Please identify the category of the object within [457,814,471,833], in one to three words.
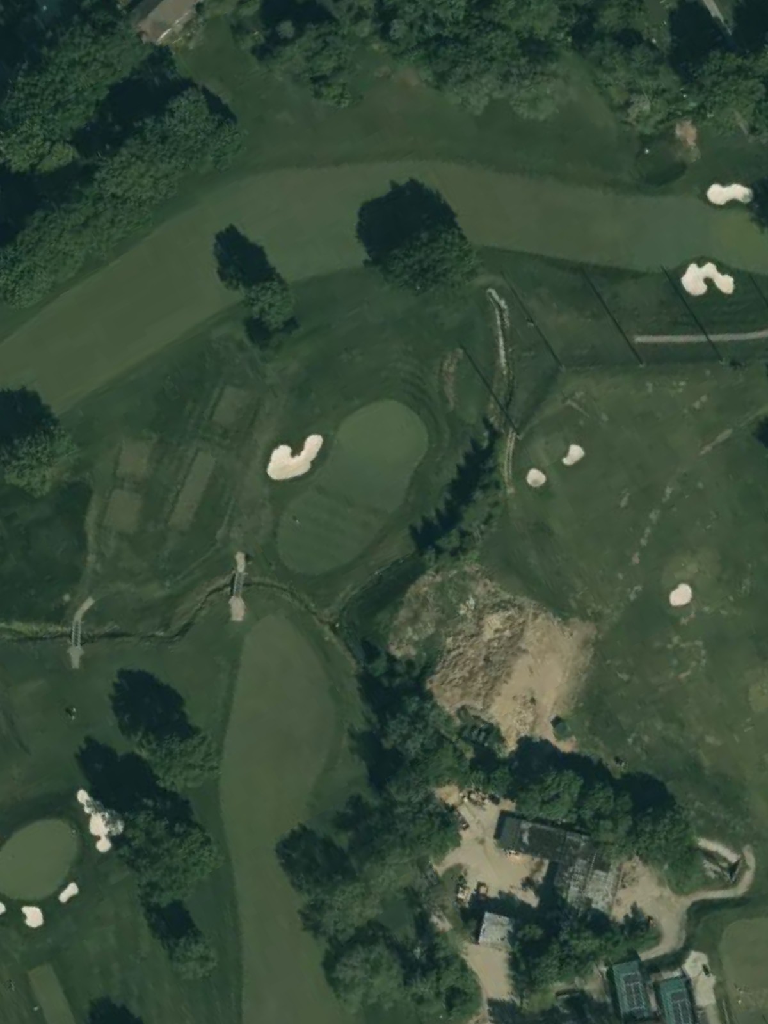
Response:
vehicle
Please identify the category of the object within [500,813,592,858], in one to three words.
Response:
shed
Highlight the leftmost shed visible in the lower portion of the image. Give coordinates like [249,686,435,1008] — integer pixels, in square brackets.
[478,911,515,950]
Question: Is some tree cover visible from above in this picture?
Yes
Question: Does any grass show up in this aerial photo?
Yes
